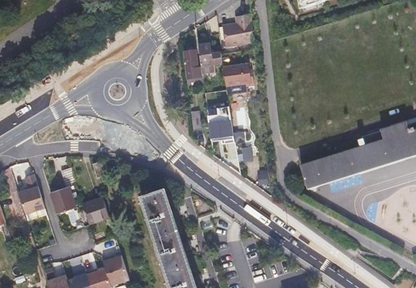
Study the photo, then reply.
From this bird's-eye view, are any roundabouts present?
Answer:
Yes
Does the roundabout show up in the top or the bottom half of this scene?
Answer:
top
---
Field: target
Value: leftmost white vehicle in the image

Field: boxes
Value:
[16,102,32,116]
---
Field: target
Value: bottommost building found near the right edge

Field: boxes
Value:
[300,121,416,190]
